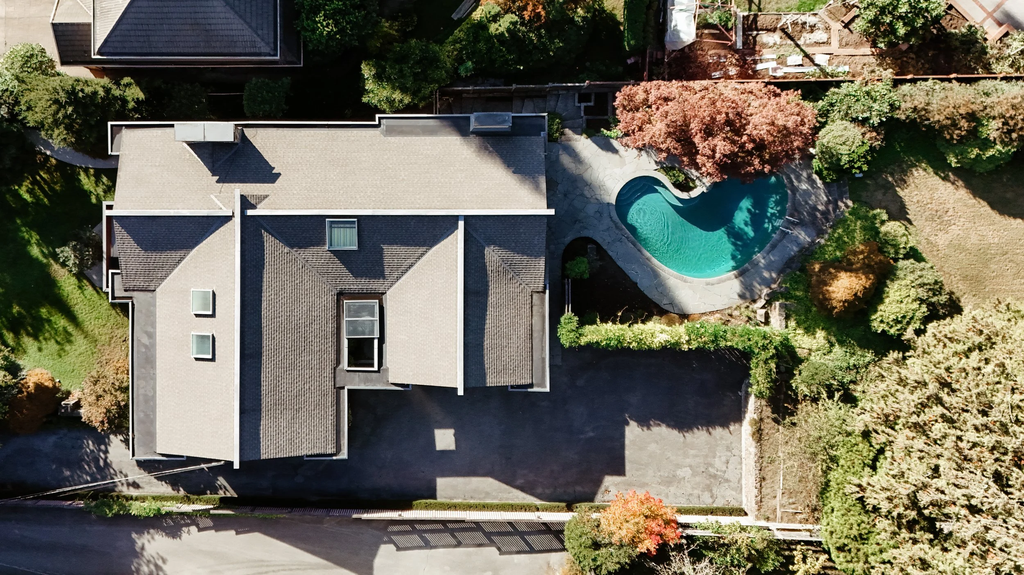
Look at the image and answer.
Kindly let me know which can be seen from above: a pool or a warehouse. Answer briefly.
pool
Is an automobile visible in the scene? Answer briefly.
No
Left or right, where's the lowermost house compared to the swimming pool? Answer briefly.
to the left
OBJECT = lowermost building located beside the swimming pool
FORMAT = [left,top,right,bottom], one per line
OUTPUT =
[103,113,554,469]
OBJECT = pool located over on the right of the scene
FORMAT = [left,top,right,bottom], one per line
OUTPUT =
[616,171,789,278]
